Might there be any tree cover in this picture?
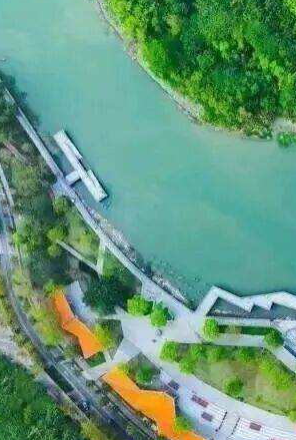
Yes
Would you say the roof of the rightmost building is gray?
No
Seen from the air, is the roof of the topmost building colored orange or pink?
orange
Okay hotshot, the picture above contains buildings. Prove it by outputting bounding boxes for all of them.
[102,367,205,440]
[54,287,102,359]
